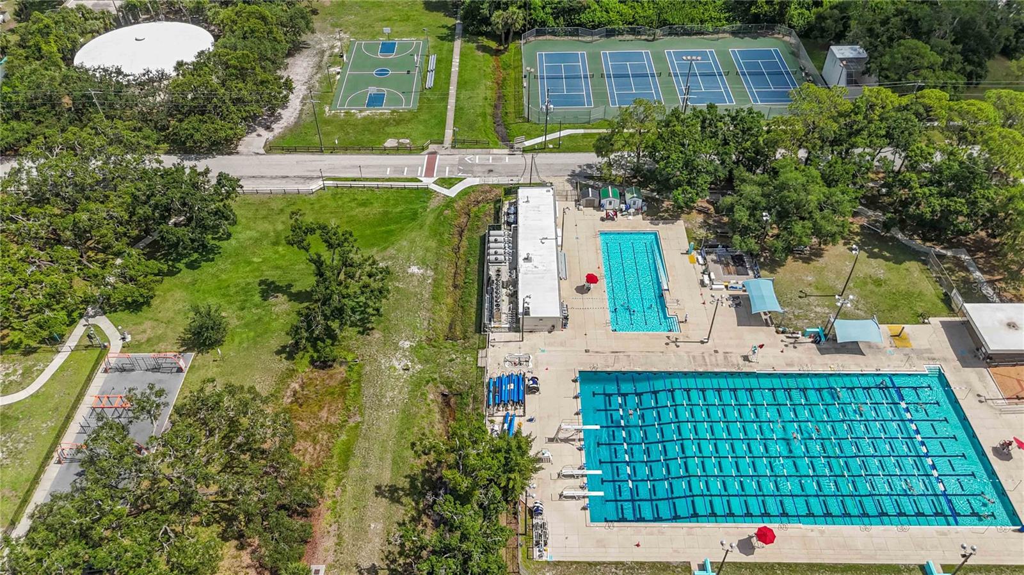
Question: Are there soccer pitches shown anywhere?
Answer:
No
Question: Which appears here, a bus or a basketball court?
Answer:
basketball court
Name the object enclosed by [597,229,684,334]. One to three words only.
swimming pool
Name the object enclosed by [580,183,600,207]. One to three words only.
shed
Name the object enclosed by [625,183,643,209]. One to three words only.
shed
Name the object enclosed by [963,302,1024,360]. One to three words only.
building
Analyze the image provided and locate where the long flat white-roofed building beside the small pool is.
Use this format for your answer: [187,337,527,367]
[518,186,562,330]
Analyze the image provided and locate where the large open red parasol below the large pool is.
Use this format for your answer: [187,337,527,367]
[756,523,778,544]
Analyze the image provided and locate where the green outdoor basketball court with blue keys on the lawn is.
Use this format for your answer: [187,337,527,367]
[331,39,427,110]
